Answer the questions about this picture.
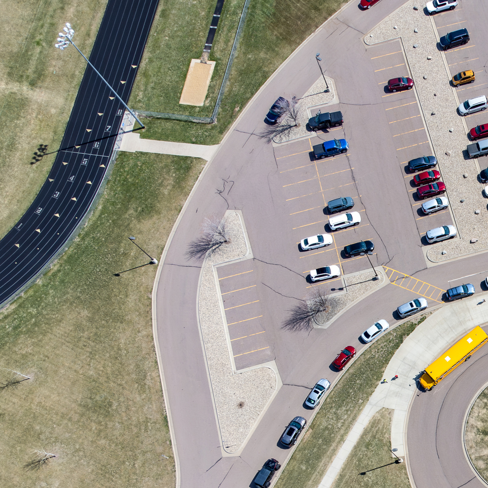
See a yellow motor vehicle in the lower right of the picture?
Yes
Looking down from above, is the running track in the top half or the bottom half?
top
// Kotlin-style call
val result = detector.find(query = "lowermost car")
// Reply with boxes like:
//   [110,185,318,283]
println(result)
[250,458,281,488]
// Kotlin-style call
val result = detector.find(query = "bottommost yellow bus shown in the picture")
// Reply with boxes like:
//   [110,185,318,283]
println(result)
[412,323,488,392]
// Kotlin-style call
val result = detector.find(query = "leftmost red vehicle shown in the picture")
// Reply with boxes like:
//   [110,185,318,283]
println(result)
[329,346,358,371]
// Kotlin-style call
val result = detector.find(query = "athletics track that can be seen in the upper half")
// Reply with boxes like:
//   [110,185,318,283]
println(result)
[0,0,159,303]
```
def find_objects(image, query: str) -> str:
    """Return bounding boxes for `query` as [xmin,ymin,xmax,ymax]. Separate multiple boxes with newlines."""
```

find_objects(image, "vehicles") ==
[279,415,307,449]
[468,124,488,142]
[386,75,414,92]
[407,154,438,172]
[419,197,451,215]
[411,170,442,187]
[479,165,488,183]
[458,96,488,116]
[451,70,477,87]
[465,139,488,159]
[308,264,341,281]
[299,233,334,251]
[439,27,471,49]
[358,320,391,344]
[250,458,281,488]
[415,181,448,199]
[425,224,458,243]
[327,211,362,231]
[425,0,460,16]
[264,94,291,125]
[311,138,350,159]
[343,241,375,257]
[325,196,356,214]
[444,283,477,302]
[396,297,430,319]
[329,346,358,371]
[302,378,331,410]
[307,109,345,131]
[412,323,488,392]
